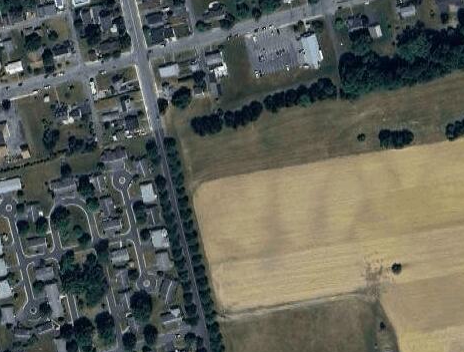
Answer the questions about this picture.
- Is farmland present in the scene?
Yes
